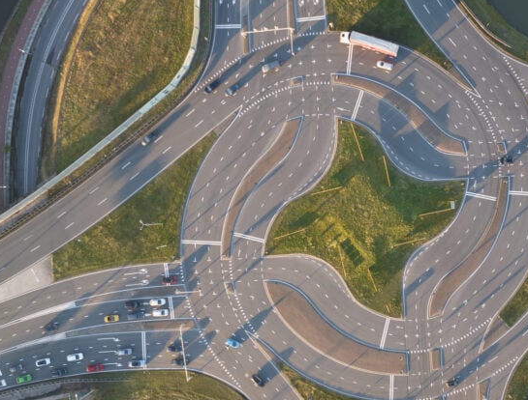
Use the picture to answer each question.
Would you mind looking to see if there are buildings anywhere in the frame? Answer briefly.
No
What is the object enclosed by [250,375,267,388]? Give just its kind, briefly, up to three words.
vehicle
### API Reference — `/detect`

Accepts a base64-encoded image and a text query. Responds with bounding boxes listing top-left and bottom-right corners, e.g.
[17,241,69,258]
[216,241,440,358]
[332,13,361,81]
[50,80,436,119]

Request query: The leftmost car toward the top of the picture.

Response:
[139,131,155,146]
